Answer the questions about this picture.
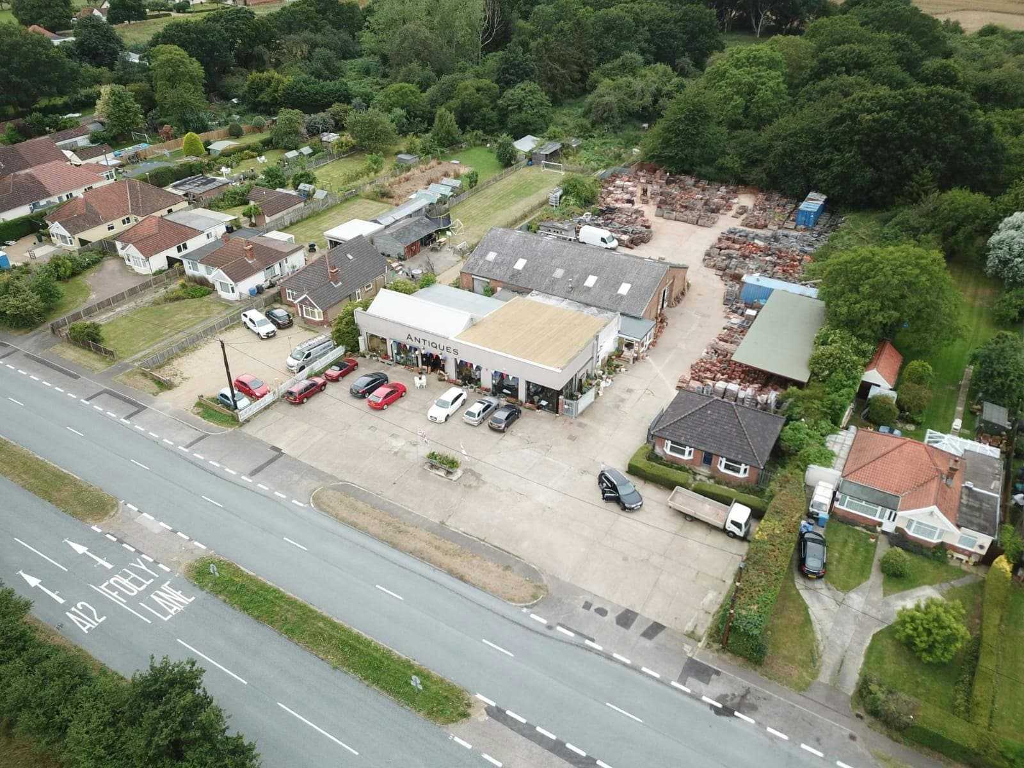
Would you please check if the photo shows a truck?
Yes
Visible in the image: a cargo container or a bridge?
cargo container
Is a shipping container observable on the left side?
No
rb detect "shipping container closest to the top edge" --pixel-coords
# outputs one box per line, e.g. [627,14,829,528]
[796,193,827,229]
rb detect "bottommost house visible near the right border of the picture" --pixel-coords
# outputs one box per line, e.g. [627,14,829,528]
[822,423,1005,562]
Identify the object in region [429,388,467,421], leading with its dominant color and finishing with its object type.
white car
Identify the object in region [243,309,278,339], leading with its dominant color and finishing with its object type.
white truck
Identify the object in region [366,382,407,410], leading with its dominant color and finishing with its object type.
red car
